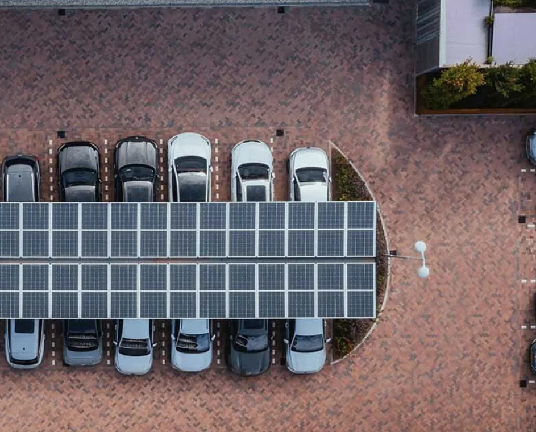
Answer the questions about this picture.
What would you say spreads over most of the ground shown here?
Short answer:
paved ground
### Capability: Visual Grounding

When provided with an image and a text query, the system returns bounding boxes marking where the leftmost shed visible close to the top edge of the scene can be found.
[414,0,490,75]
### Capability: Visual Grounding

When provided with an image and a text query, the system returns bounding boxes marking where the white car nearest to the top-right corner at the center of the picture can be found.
[285,148,335,201]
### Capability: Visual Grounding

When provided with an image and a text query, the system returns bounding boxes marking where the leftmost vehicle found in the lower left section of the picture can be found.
[5,319,46,369]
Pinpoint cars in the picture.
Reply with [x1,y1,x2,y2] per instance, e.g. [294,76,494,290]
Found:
[282,307,331,374]
[110,319,157,374]
[227,318,276,376]
[1,155,41,201]
[112,136,162,233]
[285,148,335,201]
[229,141,278,201]
[5,319,46,369]
[59,300,106,367]
[166,133,215,201]
[169,319,217,372]
[56,142,103,201]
